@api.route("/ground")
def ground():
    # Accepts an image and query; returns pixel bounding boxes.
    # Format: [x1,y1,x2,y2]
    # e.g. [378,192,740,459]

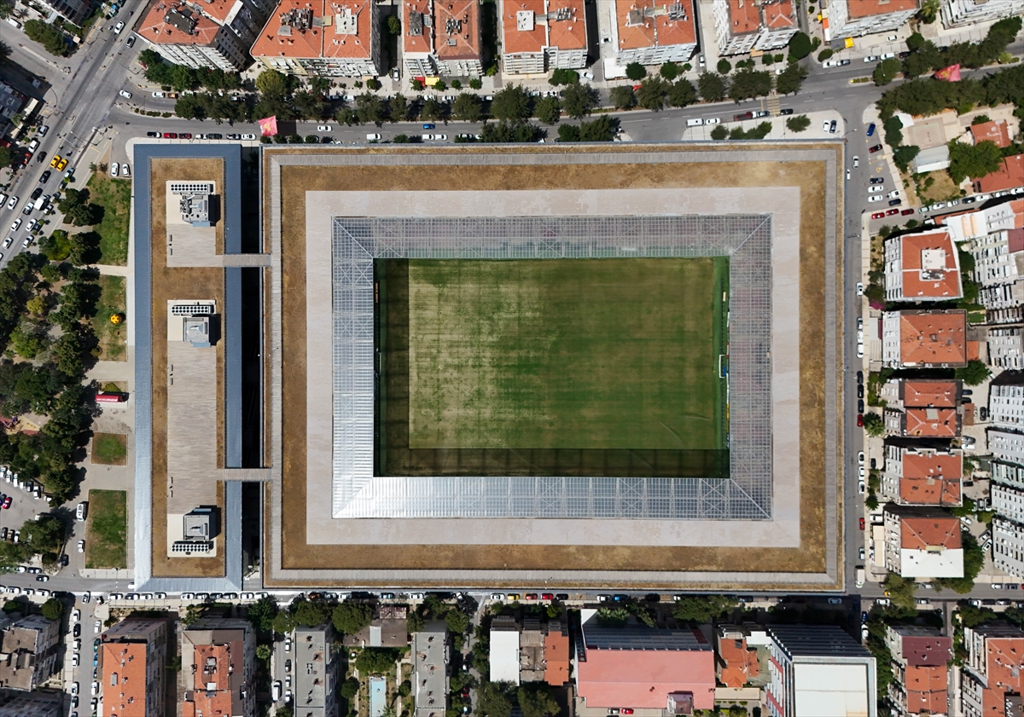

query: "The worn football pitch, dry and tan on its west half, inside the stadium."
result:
[375,259,729,476]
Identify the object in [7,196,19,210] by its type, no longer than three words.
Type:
vehicle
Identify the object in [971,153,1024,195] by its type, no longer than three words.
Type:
house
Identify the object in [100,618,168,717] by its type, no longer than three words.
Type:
building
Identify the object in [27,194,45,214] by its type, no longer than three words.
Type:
vehicle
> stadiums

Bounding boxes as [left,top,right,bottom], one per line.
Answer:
[261,144,845,592]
